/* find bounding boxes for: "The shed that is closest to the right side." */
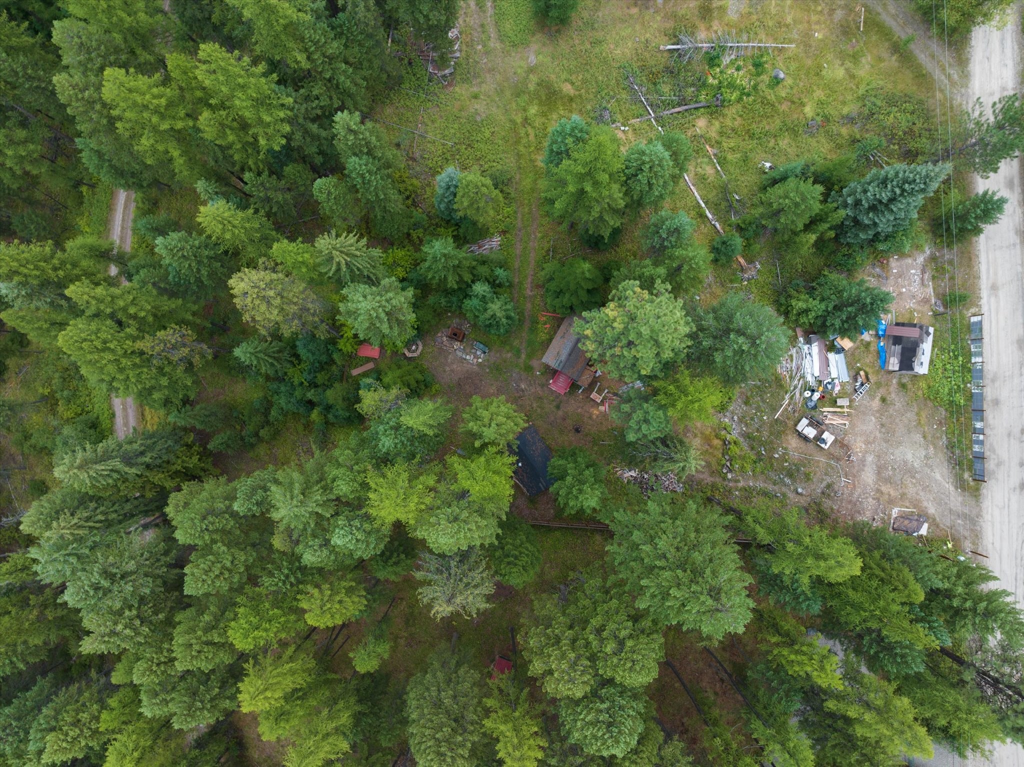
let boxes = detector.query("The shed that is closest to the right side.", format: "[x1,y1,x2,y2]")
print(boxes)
[882,322,932,375]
